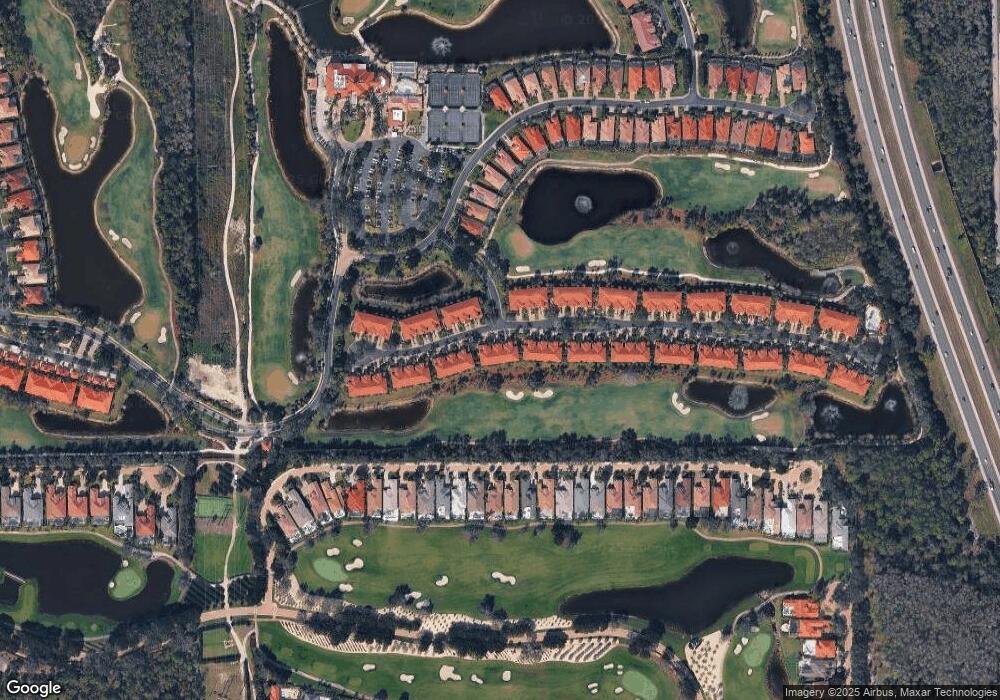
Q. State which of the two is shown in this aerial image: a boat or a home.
home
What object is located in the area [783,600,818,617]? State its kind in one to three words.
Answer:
house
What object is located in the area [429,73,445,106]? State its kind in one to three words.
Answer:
tennis court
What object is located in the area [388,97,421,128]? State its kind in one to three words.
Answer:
building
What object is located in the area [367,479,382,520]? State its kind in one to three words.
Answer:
house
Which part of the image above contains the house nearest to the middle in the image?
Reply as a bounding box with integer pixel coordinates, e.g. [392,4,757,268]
[479,342,520,365]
